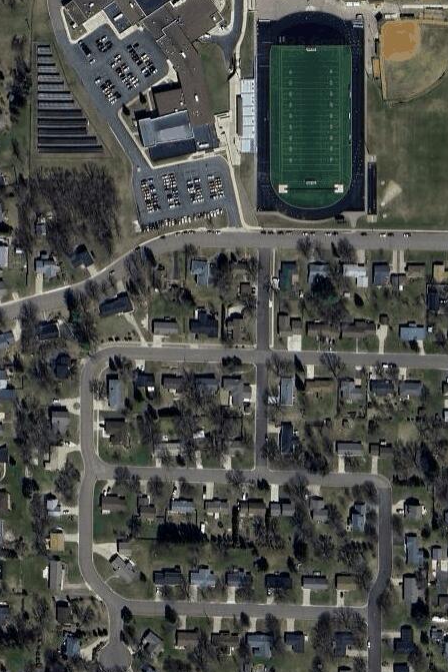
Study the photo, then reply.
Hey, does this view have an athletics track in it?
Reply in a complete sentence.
Yes, there is an athletics track in the image.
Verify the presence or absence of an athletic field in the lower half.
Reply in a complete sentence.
No, looking in the lower half, there is no athletic field.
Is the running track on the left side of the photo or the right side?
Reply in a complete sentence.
The running track sits on the right side.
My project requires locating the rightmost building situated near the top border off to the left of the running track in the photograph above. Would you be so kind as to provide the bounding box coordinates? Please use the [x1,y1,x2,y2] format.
[63,0,222,161]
